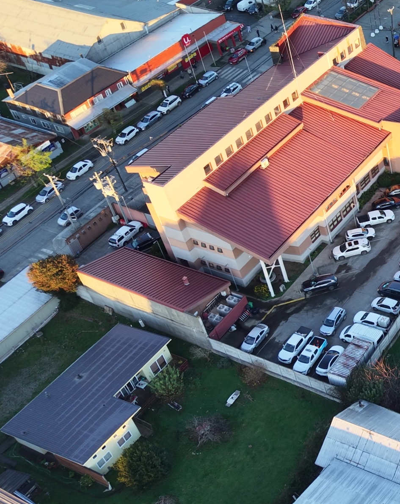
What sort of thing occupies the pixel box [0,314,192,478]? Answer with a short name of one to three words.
house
